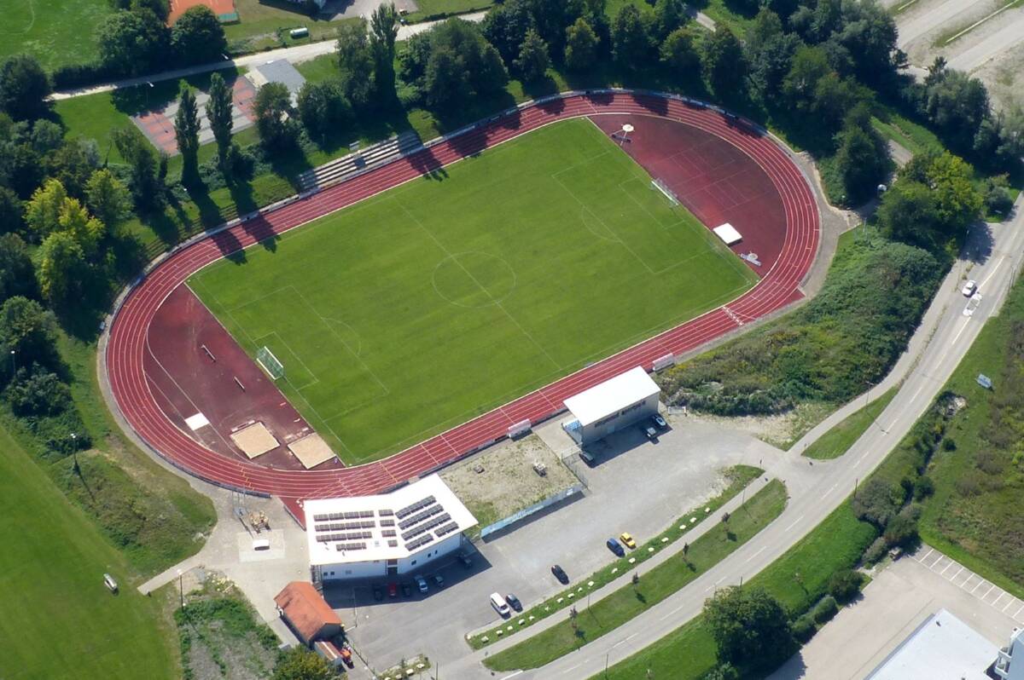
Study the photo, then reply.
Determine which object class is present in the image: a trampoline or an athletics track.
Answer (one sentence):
There is an athletics track in the scene.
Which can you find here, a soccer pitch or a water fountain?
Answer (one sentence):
Visible in the photo is a soccer pitch.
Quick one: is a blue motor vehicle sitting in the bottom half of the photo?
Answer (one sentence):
Yes, a blue motor vehicle is visible in the bottom half of the photo.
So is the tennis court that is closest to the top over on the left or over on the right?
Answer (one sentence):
The tennis court that is closest to the top appears in the left half of the scene.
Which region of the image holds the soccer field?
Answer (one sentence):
Look in the center portion of the view to spot the soccer field.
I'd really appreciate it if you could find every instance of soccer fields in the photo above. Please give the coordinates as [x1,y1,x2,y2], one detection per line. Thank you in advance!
[185,115,761,466]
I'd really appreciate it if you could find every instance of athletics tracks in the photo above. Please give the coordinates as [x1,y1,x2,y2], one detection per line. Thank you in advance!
[109,93,819,499]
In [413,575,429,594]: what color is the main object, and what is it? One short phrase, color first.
blue car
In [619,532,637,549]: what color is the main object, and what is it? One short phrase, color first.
yellow car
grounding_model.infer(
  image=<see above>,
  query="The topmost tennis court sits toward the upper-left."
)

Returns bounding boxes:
[166,0,238,23]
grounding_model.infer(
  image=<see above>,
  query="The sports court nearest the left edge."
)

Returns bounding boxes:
[136,107,178,151]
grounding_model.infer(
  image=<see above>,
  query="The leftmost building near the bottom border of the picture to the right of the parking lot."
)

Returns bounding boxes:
[859,609,1000,680]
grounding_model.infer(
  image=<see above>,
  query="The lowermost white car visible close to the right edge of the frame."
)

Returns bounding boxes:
[961,280,977,295]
